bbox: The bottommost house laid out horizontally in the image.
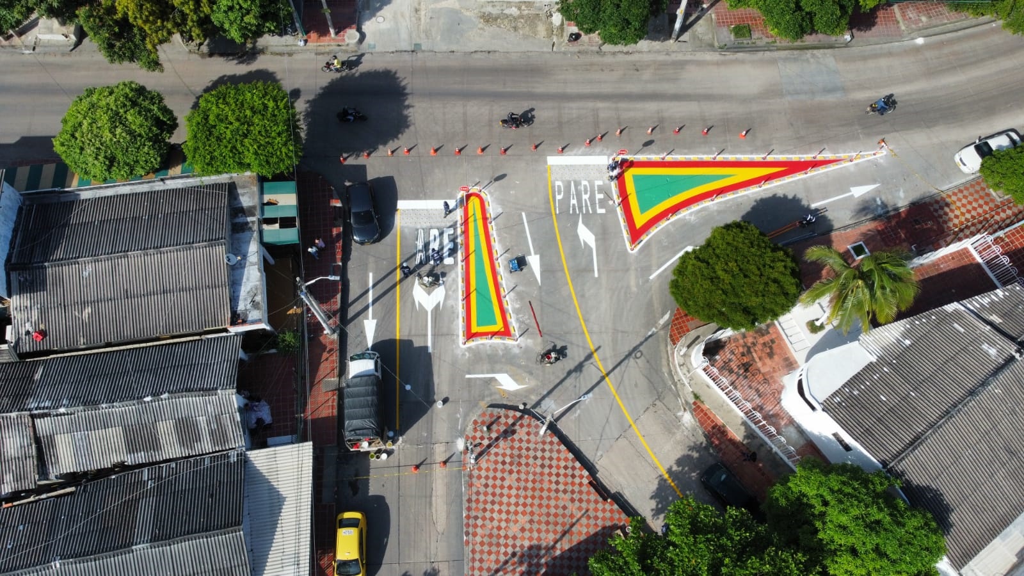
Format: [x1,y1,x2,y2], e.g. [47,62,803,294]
[0,451,253,576]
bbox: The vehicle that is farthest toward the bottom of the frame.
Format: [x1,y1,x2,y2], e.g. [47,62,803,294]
[331,509,368,576]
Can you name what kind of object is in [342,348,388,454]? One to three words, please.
truck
